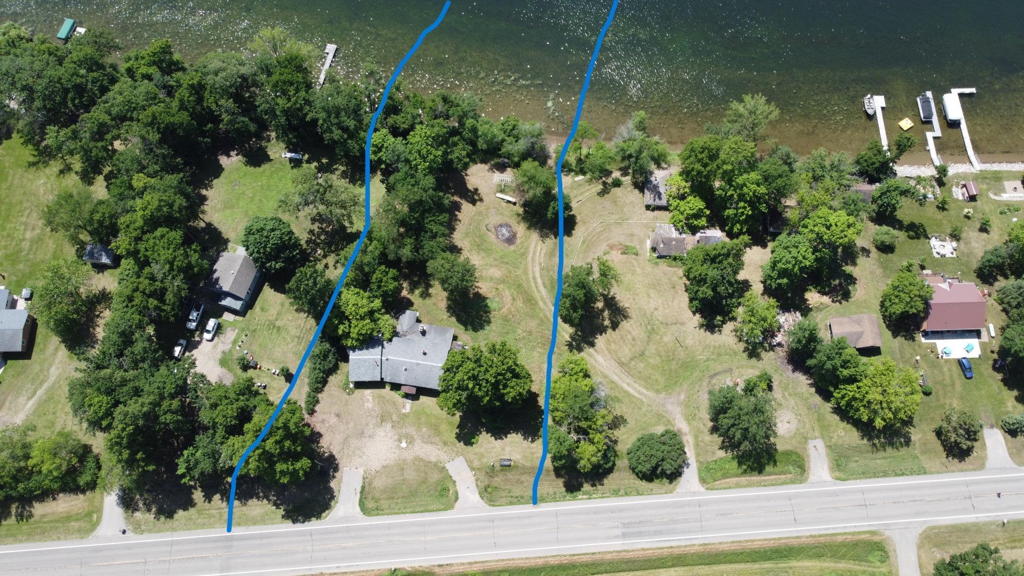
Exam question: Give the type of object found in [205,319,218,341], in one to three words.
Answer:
vehicle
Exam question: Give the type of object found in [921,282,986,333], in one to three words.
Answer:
house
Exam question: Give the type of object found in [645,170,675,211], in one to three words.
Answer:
building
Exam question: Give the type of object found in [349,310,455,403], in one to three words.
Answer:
house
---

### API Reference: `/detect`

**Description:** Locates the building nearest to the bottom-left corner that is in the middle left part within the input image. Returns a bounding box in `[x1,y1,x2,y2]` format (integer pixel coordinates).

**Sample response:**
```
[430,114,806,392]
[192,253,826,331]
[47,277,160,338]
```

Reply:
[0,289,36,356]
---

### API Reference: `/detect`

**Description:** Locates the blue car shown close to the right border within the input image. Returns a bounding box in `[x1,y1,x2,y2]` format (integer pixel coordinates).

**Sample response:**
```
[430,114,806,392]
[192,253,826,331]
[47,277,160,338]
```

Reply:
[958,358,974,380]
